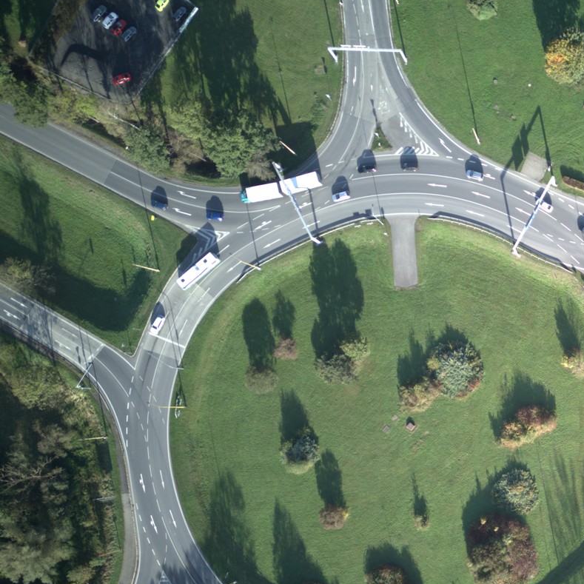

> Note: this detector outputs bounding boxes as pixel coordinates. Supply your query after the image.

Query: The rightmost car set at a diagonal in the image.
[538,198,556,213]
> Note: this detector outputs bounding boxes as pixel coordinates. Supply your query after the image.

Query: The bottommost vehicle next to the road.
[148,312,163,332]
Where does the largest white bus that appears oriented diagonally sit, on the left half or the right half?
left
